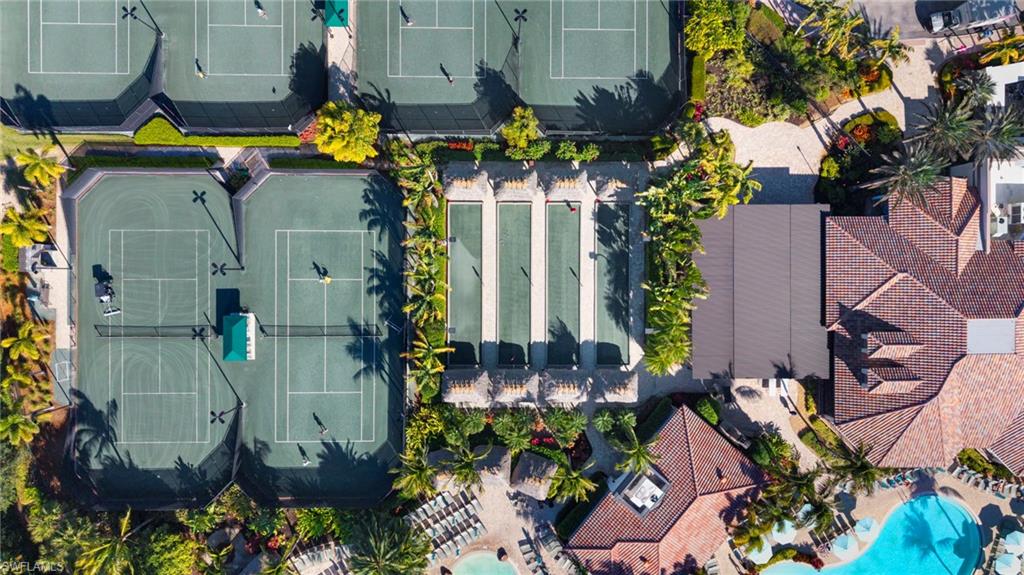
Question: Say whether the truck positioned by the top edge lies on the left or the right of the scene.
right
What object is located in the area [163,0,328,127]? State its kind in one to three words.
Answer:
tennis court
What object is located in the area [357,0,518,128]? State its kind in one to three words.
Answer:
tennis court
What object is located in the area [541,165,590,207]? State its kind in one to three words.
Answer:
shed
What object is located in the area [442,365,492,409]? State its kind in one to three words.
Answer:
shed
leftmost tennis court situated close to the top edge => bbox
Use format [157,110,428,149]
[0,0,163,126]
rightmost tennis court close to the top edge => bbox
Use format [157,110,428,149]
[518,0,678,130]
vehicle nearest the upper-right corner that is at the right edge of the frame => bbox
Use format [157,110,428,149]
[923,0,1018,38]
